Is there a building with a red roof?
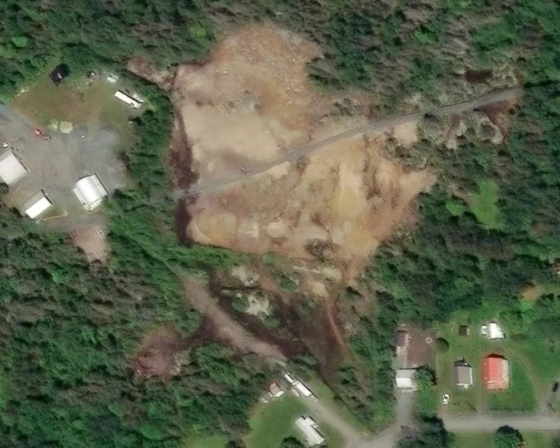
Yes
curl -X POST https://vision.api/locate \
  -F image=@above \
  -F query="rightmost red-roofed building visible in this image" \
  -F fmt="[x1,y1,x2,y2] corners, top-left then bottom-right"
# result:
[483,358,507,386]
